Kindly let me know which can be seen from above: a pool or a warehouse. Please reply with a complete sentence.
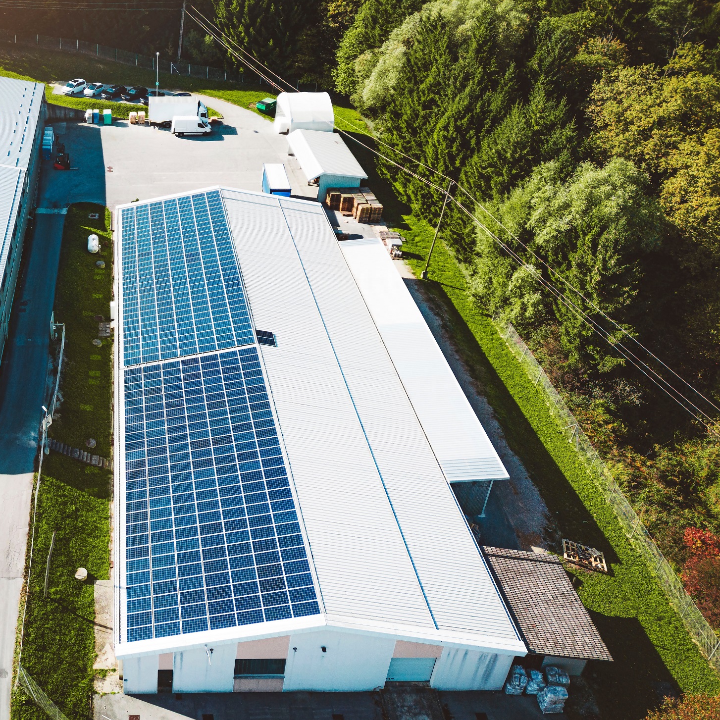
Of the two, only a warehouse appears.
